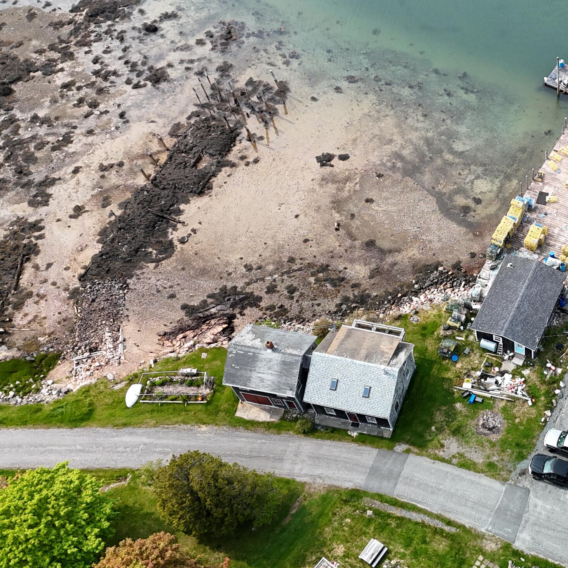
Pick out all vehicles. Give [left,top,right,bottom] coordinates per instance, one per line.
[528,456,568,488]
[540,430,568,458]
